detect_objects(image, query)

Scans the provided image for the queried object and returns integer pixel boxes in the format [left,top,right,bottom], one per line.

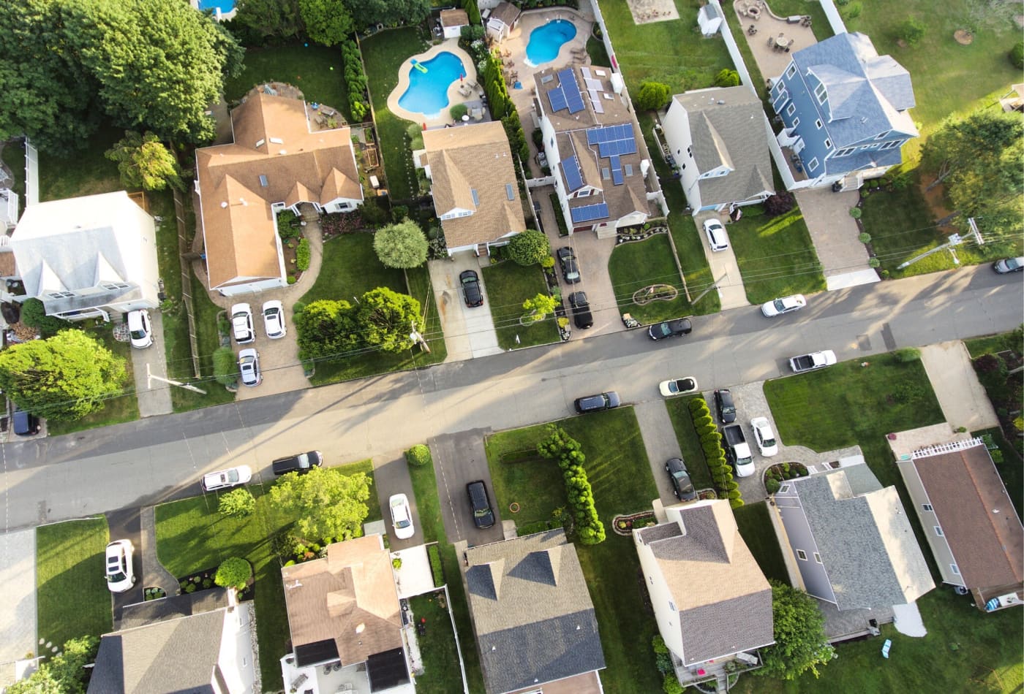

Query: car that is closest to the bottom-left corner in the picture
[104,541,134,591]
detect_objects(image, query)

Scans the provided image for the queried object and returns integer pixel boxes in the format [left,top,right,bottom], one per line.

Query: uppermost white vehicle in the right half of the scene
[702,218,730,255]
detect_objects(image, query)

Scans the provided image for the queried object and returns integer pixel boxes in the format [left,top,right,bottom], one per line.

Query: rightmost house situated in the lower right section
[891,427,1024,620]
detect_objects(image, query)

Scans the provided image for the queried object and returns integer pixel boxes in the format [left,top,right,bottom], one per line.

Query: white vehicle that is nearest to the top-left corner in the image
[128,309,154,349]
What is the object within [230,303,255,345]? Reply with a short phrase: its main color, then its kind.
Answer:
white car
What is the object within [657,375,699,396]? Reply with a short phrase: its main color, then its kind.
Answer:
white car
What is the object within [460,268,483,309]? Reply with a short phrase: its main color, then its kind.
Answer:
black car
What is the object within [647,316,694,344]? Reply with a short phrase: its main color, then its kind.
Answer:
black car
